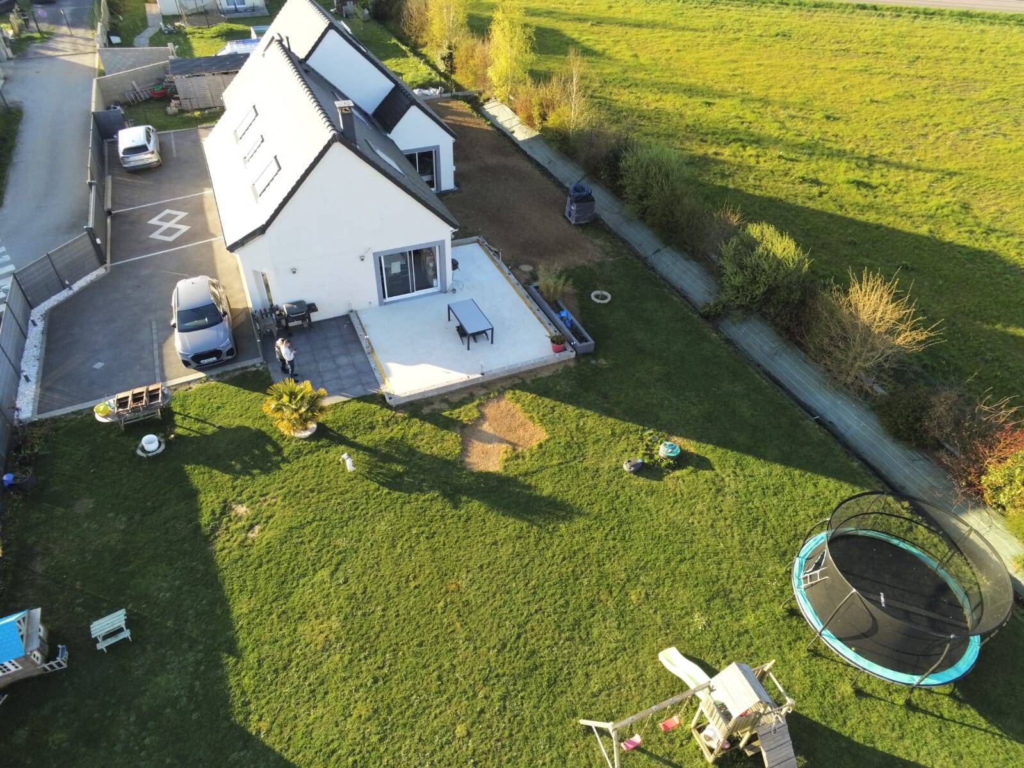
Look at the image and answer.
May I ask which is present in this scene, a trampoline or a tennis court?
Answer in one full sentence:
The one in the frame is a trampoline.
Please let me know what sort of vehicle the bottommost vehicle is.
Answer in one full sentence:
Specifically, the bottommost vehicle is a car.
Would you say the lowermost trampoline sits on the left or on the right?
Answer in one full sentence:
It is on the right.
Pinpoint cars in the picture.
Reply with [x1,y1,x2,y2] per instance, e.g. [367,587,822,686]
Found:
[115,129,163,171]
[173,277,241,370]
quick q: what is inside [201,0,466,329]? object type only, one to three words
house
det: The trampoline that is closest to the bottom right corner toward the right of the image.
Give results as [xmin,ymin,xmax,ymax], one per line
[784,493,1014,707]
